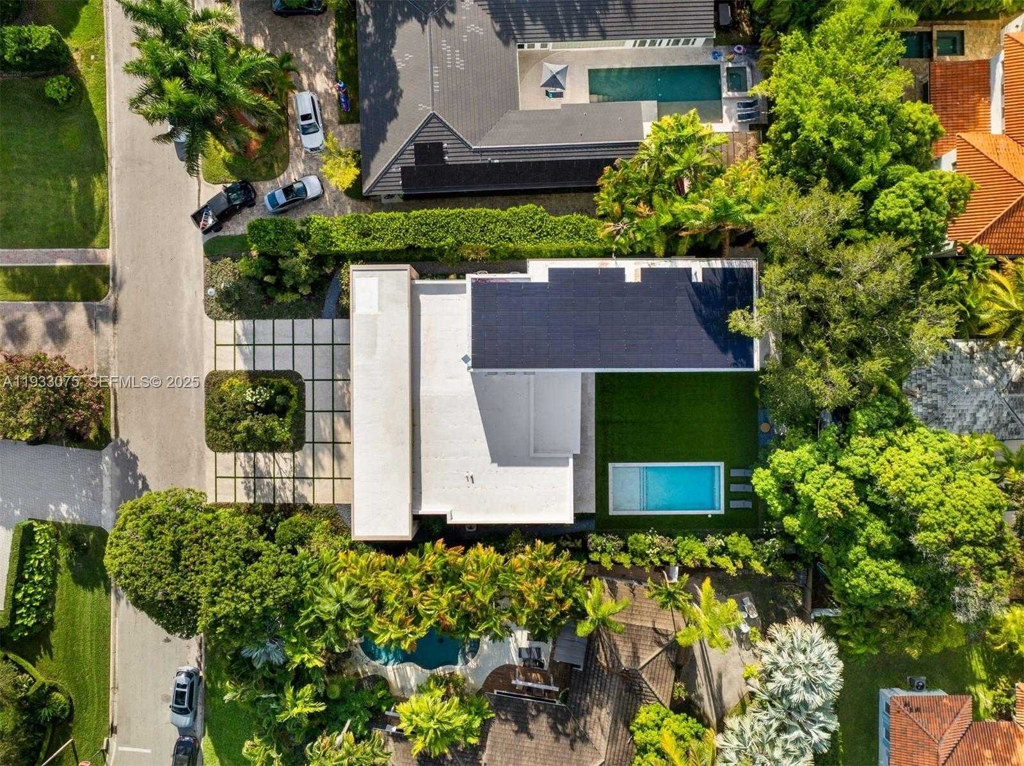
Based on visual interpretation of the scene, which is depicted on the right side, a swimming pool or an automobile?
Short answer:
swimming pool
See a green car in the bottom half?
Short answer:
No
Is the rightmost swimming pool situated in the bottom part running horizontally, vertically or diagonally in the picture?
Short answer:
horizontally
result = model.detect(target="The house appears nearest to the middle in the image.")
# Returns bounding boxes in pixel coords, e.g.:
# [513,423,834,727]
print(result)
[350,258,759,540]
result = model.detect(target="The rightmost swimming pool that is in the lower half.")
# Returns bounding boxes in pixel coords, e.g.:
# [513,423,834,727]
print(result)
[609,462,724,515]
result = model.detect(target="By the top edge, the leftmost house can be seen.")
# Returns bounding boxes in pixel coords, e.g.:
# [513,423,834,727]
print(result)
[356,0,718,198]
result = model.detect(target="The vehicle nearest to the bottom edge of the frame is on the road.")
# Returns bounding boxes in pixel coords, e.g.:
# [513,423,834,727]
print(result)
[167,737,199,766]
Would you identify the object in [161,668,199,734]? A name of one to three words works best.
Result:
car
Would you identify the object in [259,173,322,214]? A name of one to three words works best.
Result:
car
